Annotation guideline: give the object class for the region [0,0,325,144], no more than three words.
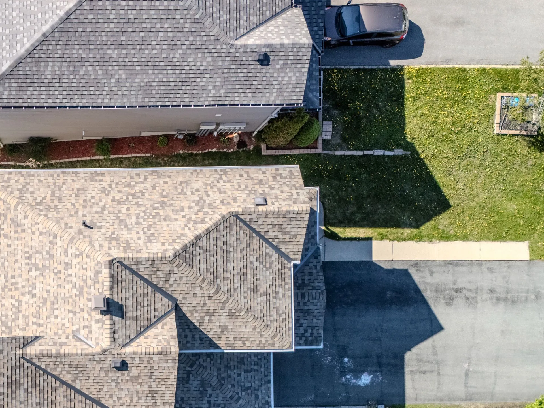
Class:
house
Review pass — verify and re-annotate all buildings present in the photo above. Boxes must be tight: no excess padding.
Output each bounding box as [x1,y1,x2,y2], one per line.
[0,0,325,144]
[0,163,326,355]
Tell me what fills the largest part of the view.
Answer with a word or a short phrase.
buildings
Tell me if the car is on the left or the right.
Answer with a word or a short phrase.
right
